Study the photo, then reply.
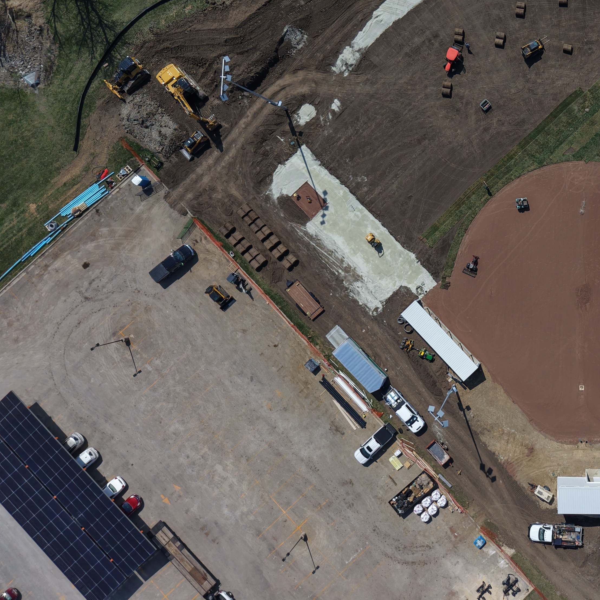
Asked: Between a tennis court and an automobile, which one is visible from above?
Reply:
automobile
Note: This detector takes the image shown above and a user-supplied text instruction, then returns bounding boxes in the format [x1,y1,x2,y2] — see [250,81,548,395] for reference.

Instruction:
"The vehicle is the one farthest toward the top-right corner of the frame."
[519,37,551,60]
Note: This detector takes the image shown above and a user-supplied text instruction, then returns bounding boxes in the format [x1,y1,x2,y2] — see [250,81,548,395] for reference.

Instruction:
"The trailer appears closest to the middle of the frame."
[285,278,324,319]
